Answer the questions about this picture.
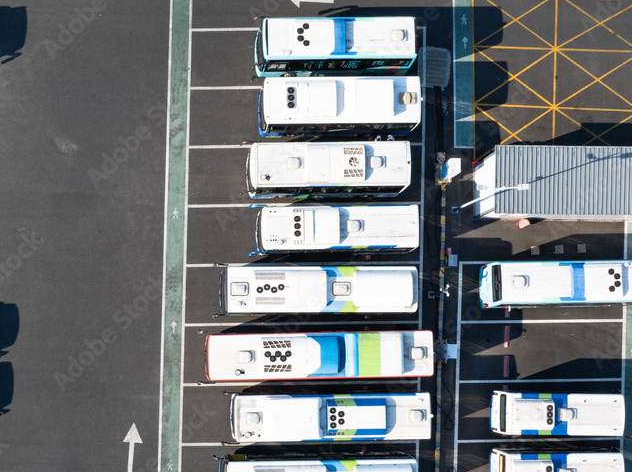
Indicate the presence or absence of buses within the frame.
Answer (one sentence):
Yes, the image includes a bus.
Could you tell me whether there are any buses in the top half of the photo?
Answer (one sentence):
Yes, the scene does show a bus in the top half of the photo.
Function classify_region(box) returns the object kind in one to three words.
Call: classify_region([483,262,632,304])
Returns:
bus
